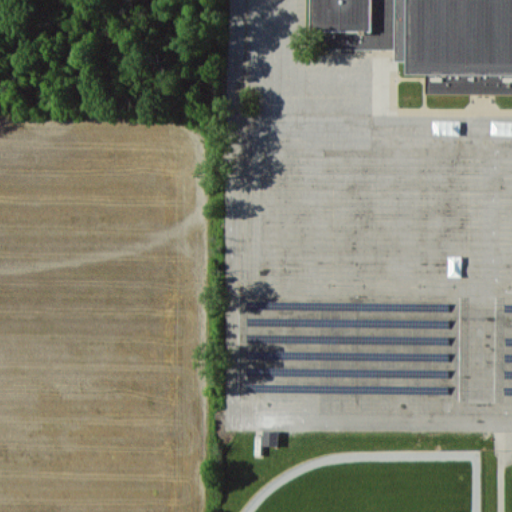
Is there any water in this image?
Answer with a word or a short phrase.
No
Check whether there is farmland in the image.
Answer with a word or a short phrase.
Yes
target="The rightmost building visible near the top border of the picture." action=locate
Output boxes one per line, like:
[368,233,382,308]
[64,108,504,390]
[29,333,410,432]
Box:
[394,0,512,96]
